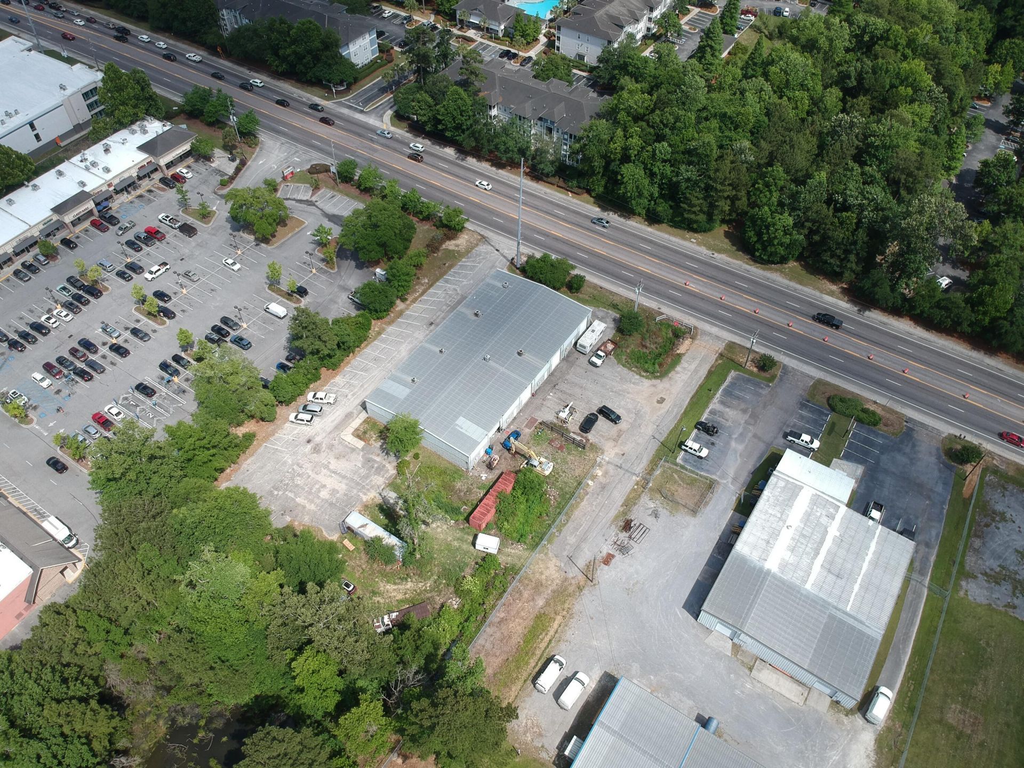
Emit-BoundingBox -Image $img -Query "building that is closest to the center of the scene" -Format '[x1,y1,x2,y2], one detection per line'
[365,268,592,469]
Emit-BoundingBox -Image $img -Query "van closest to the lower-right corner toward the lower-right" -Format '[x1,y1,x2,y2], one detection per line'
[864,685,894,727]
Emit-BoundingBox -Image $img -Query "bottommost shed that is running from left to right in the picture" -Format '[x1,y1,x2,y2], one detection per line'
[563,674,768,768]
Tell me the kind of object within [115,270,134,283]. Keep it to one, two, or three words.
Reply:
vehicle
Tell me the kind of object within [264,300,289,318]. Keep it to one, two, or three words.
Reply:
vehicle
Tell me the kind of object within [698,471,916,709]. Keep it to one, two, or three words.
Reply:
warehouse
